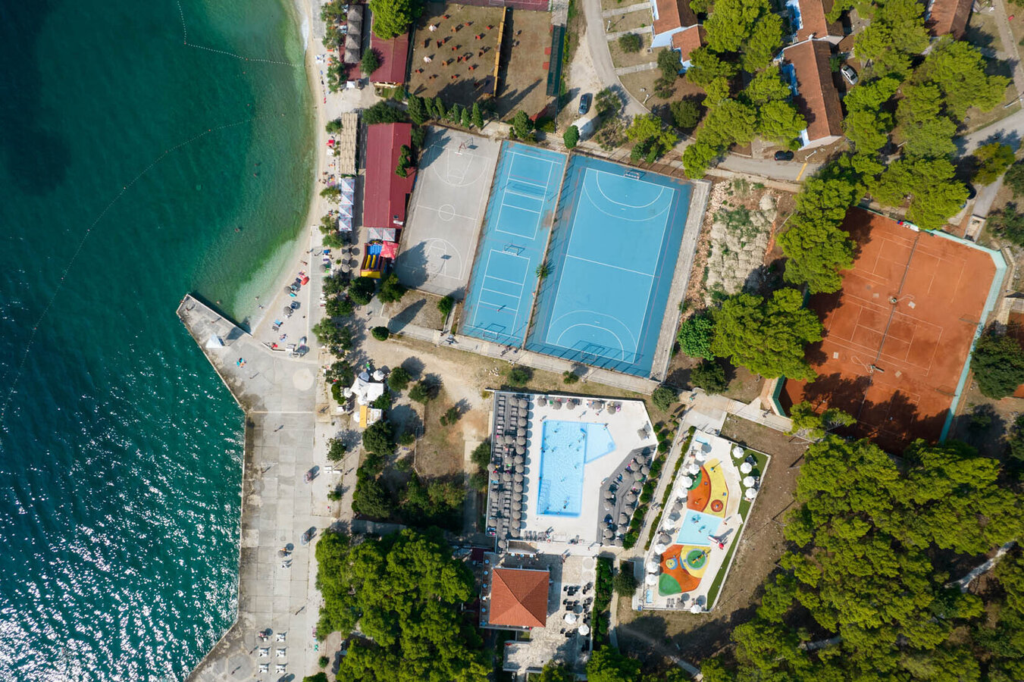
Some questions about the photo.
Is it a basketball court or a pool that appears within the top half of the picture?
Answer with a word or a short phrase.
basketball court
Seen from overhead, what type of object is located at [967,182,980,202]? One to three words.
vehicle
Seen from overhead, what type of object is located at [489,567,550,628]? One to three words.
building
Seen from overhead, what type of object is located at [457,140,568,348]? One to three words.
sports court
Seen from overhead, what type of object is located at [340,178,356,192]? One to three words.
umbrella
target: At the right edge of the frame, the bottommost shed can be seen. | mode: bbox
[963,214,986,242]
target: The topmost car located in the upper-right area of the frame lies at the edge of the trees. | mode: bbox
[842,64,857,85]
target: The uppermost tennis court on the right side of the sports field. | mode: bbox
[848,218,976,311]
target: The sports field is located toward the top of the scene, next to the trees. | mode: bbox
[539,161,683,369]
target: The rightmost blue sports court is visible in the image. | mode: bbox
[525,154,694,378]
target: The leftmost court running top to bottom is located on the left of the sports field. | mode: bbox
[394,125,501,298]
